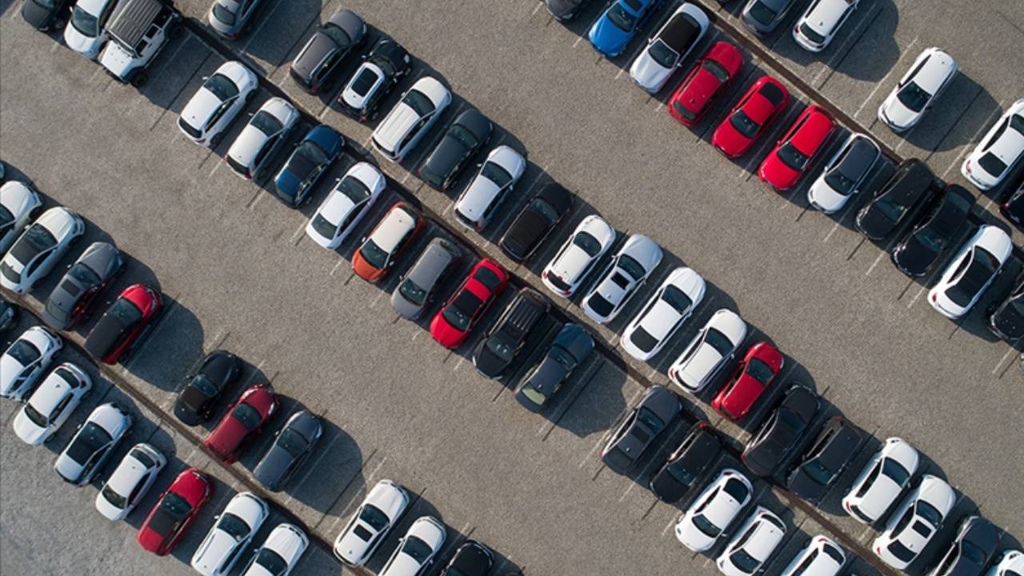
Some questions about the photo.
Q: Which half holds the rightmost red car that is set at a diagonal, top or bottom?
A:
top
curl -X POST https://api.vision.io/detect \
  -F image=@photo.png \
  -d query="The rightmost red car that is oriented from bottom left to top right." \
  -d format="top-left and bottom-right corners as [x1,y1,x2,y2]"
[758,104,839,192]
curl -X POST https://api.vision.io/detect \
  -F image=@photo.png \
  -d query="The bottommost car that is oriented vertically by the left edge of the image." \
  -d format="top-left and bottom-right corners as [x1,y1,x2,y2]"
[0,301,25,358]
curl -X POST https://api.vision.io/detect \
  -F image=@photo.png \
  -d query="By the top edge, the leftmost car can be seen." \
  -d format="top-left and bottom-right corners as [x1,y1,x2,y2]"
[28,0,80,37]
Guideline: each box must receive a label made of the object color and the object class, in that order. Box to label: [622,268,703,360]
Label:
white car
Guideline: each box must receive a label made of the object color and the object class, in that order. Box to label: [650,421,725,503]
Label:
black car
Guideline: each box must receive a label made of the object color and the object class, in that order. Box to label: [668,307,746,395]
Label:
white car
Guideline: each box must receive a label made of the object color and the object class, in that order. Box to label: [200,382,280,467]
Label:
red car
